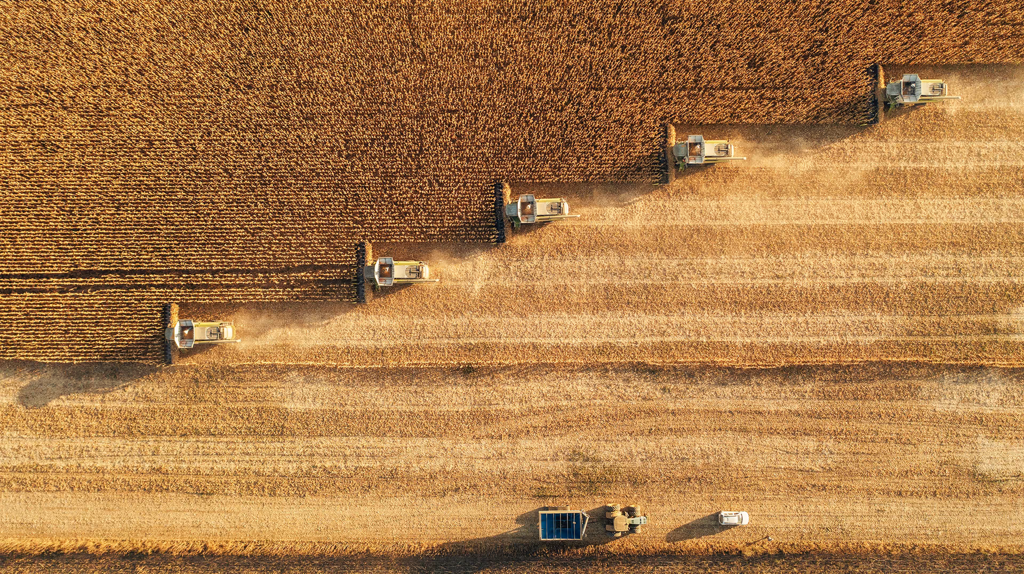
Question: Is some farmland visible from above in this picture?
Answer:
Yes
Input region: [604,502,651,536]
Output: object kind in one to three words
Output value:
work vehicle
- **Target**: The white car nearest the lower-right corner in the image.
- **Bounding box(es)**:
[718,511,748,526]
